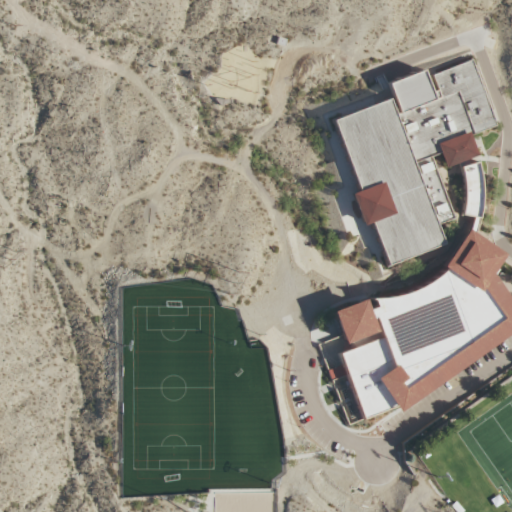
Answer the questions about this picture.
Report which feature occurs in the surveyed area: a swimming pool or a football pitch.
football pitch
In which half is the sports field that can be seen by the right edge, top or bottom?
bottom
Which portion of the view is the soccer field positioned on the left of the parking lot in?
bottom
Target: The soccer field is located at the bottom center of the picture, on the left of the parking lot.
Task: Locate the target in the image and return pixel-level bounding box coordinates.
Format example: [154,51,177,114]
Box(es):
[124,278,284,496]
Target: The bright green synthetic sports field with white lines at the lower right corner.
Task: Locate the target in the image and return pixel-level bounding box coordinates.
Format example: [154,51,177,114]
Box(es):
[459,392,512,512]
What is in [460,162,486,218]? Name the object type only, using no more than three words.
building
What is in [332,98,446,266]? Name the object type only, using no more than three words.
building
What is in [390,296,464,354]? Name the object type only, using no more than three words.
solar array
